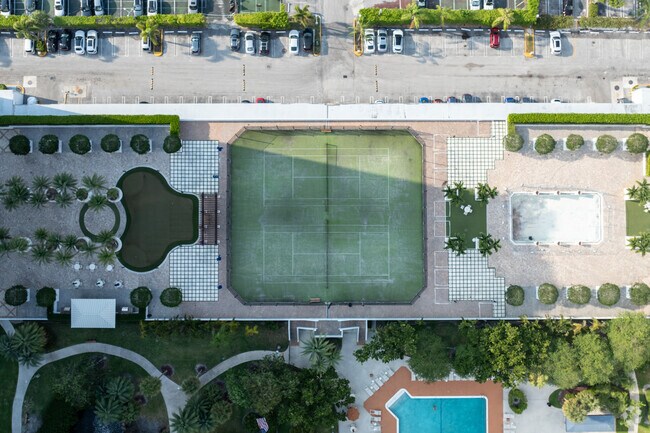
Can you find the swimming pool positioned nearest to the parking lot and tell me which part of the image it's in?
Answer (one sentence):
Look in the right portion of the view to spot the swimming pool positioned nearest to the parking lot.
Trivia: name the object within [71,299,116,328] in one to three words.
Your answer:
gazebo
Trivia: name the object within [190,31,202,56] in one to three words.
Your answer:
vehicle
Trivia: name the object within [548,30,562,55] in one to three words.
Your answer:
vehicle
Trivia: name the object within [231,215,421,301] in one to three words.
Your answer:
tennis court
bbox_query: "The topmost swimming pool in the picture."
[510,193,602,244]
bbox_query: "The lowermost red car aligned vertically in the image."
[488,26,500,50]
